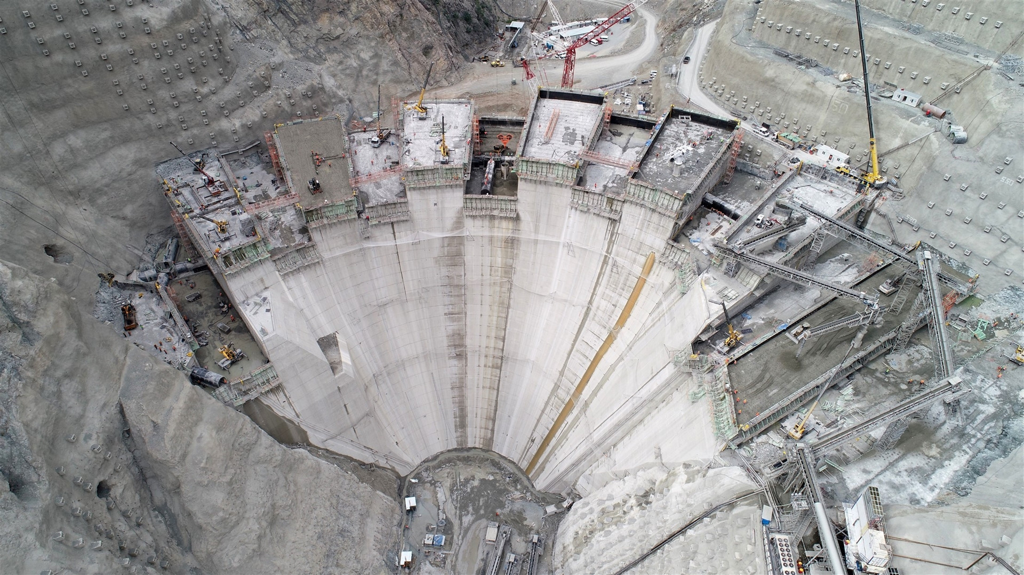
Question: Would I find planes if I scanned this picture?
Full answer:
No, there appears to be no plane in this shot.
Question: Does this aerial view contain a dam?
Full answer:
Yes, the frame does contain a dam.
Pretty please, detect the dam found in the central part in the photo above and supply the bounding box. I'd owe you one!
[169,98,963,525]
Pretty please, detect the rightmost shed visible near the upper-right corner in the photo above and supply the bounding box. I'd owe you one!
[892,88,920,107]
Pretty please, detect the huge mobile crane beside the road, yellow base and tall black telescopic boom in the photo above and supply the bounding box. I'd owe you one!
[838,0,895,189]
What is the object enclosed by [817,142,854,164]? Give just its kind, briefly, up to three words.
shed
